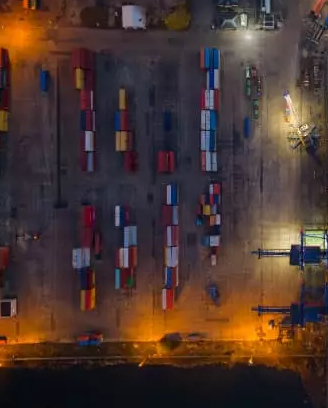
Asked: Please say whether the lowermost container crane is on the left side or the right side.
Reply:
right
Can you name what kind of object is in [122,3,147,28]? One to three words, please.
house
